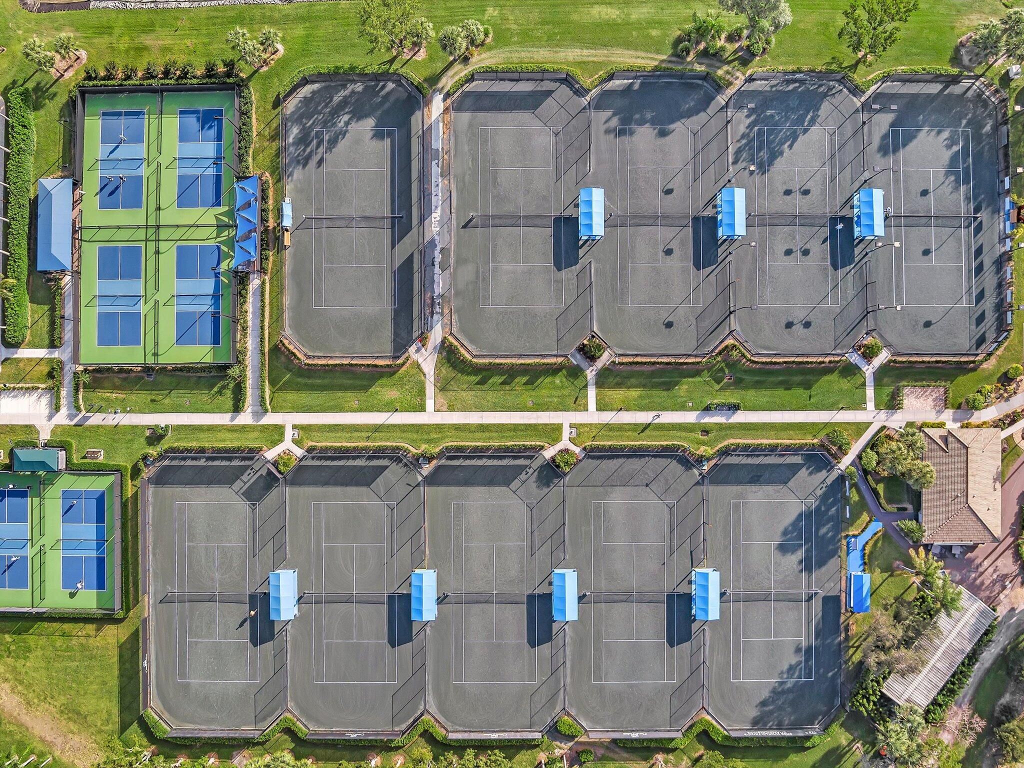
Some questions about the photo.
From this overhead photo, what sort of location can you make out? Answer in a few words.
sports ground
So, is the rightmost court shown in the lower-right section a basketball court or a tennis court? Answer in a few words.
tennis court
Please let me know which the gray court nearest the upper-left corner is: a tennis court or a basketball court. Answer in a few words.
tennis court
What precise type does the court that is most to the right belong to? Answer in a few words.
tennis court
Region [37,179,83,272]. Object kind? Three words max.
building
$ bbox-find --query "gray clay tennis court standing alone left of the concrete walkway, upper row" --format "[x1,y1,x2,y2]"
[285,82,423,355]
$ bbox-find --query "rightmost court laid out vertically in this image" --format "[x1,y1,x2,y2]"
[863,81,1001,353]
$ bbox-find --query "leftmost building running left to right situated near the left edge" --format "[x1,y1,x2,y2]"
[14,448,68,471]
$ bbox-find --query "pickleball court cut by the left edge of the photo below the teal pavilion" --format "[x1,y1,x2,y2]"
[0,471,44,607]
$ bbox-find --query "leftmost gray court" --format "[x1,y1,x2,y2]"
[149,453,287,729]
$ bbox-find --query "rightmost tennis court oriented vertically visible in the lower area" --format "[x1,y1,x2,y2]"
[703,452,841,729]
